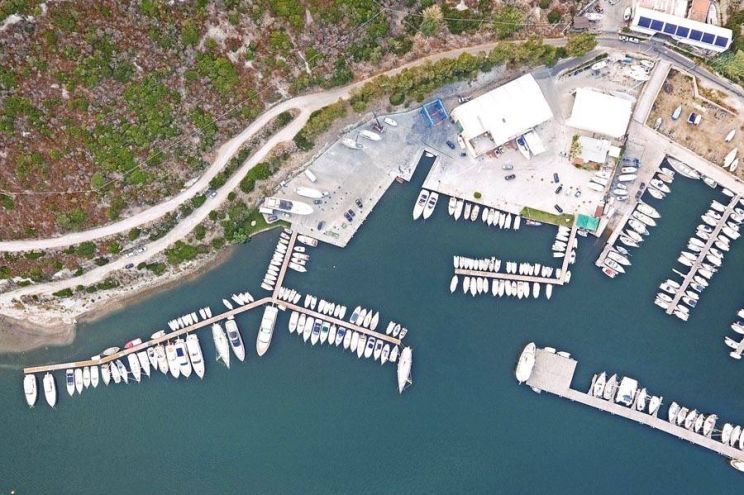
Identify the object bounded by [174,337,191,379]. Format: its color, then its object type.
white boat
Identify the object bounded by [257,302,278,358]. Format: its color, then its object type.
white boat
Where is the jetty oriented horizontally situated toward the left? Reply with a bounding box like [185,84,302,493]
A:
[23,230,401,374]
